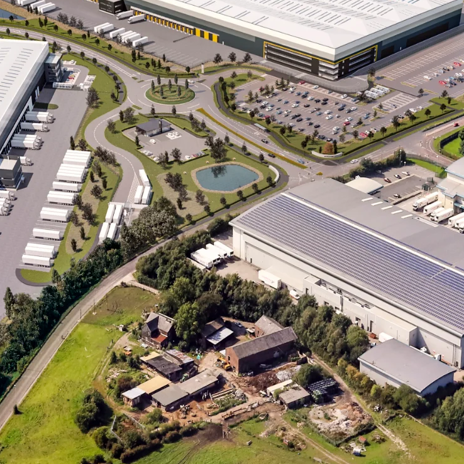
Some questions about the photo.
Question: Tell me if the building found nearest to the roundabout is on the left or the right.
left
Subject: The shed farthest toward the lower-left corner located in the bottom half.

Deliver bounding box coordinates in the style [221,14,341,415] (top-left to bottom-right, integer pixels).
[121,386,146,407]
